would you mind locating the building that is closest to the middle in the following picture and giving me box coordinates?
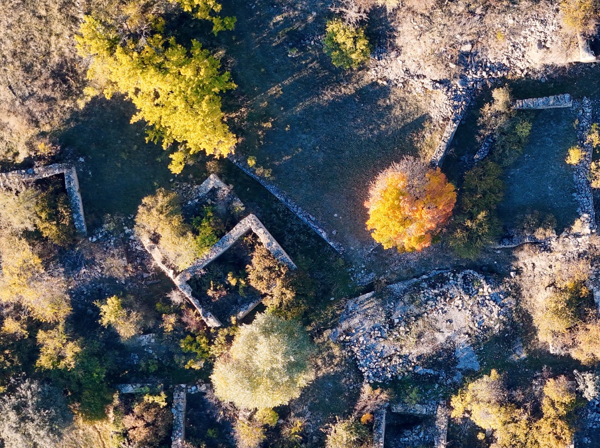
[139,217,303,328]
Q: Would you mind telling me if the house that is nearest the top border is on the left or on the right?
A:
left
